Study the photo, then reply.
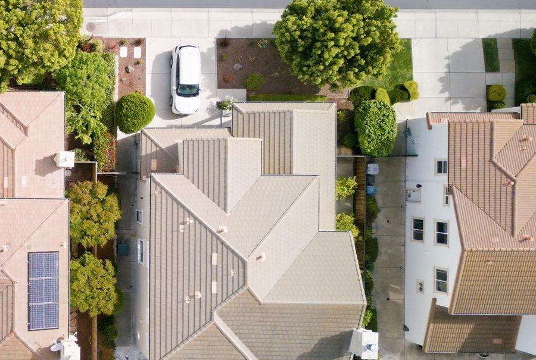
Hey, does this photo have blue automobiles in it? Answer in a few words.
No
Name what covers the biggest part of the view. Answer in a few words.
buildings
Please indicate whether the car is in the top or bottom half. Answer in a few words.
top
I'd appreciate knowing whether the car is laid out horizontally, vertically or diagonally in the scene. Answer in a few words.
vertically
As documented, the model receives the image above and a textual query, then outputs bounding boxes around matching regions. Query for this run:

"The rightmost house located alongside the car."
[136,100,375,360]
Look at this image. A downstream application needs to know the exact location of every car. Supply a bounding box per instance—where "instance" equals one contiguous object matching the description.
[173,43,208,112]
